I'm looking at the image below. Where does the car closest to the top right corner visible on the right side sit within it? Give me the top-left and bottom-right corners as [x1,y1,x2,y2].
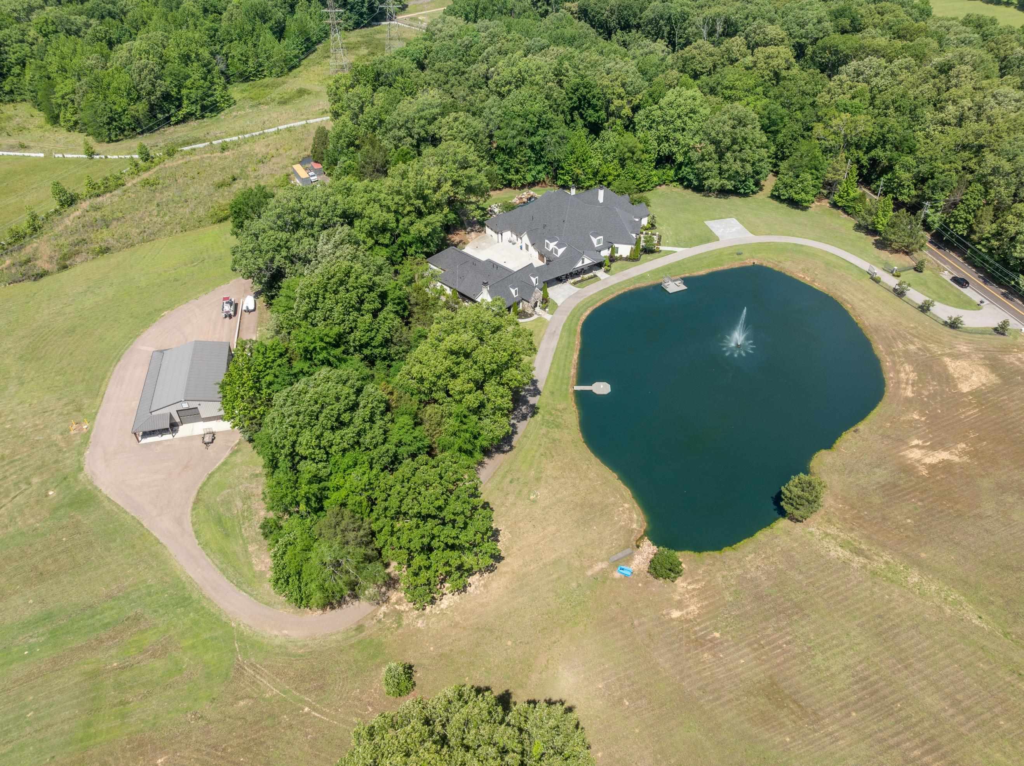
[949,276,972,288]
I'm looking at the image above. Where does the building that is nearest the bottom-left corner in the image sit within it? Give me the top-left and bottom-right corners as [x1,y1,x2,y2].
[131,337,233,443]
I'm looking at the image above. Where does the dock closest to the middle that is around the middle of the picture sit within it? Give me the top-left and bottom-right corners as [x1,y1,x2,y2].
[573,382,611,396]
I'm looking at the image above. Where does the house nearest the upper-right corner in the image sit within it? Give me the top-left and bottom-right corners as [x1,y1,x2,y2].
[428,185,649,314]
